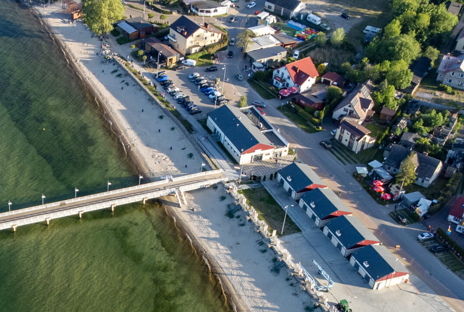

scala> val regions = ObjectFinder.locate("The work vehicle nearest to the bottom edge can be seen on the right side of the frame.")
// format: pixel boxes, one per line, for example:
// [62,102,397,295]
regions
[336,299,353,312]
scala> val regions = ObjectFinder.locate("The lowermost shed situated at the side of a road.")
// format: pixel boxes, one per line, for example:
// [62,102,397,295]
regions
[349,245,410,288]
